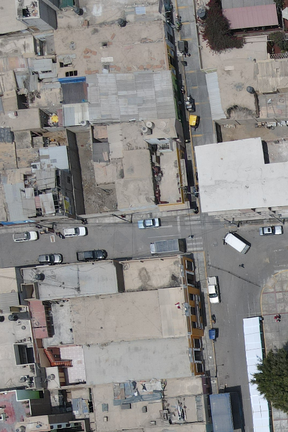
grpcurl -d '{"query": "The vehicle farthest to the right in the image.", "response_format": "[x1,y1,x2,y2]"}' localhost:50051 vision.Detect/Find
[260,223,284,236]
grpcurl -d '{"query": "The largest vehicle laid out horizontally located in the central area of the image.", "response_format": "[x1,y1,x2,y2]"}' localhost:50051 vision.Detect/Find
[149,238,187,255]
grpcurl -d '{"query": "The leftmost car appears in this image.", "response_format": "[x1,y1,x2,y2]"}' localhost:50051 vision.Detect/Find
[12,229,40,241]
